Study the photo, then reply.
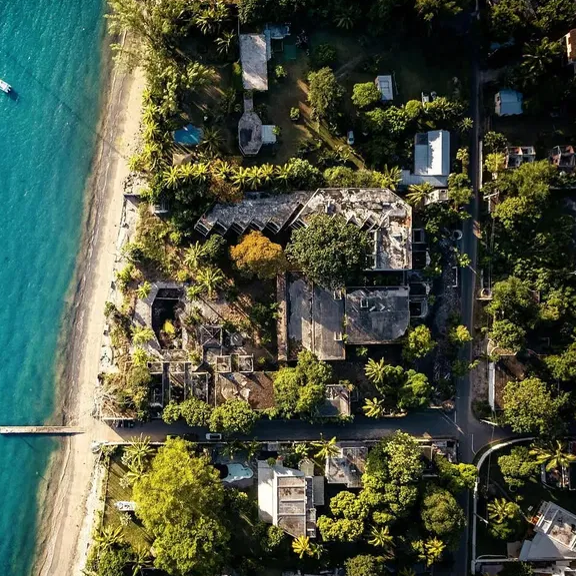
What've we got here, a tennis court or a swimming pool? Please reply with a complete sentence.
Of the two, only a swimming pool appears.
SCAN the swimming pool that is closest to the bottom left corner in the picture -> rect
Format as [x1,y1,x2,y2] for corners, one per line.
[217,457,258,488]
